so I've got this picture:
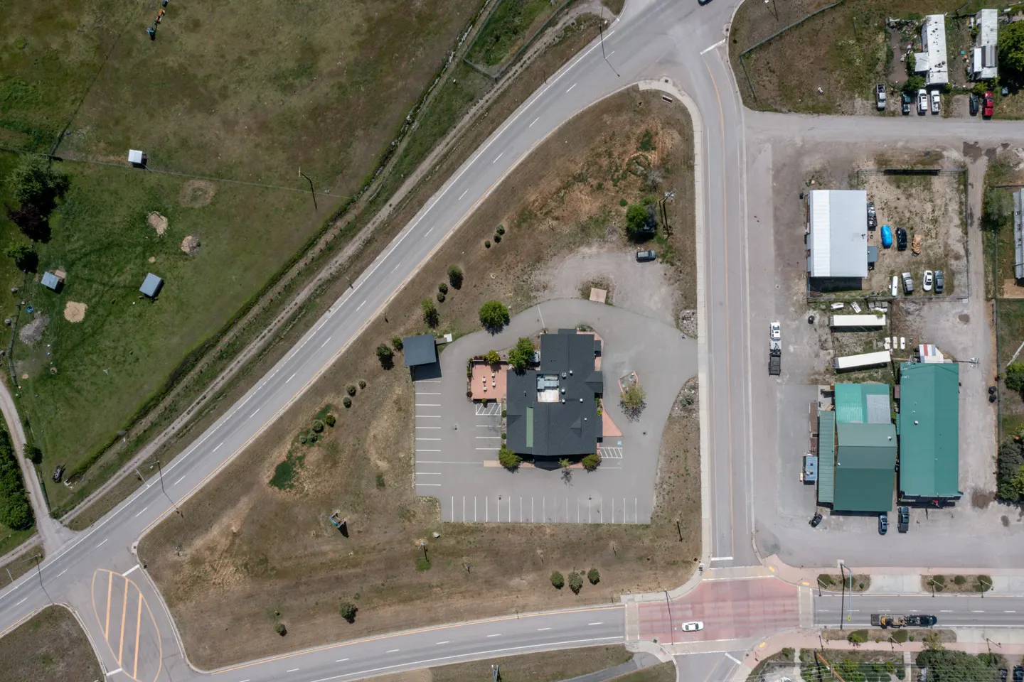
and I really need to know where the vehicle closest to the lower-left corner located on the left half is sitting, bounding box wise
[52,465,66,483]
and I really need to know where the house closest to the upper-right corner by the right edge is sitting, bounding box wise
[968,9,998,82]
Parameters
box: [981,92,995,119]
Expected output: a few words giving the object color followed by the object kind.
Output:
red vehicle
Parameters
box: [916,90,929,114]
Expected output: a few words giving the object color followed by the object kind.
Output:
white vehicle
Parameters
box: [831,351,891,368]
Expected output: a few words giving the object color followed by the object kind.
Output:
white trailer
